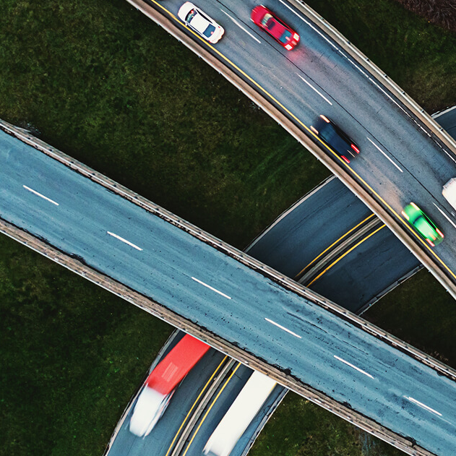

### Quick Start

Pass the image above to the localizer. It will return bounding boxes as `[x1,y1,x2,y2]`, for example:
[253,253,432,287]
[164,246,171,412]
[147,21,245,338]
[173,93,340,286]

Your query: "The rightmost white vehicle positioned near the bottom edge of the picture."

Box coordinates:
[202,373,276,456]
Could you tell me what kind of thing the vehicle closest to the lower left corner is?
truck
